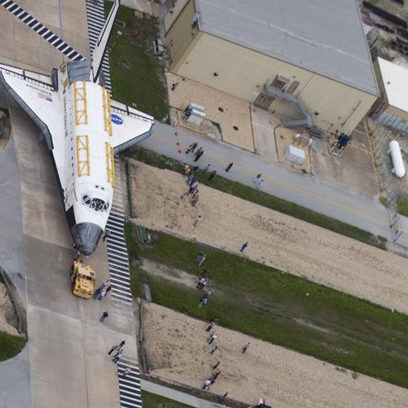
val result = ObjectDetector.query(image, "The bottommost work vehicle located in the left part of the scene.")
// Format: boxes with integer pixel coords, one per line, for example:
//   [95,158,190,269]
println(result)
[70,257,96,304]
